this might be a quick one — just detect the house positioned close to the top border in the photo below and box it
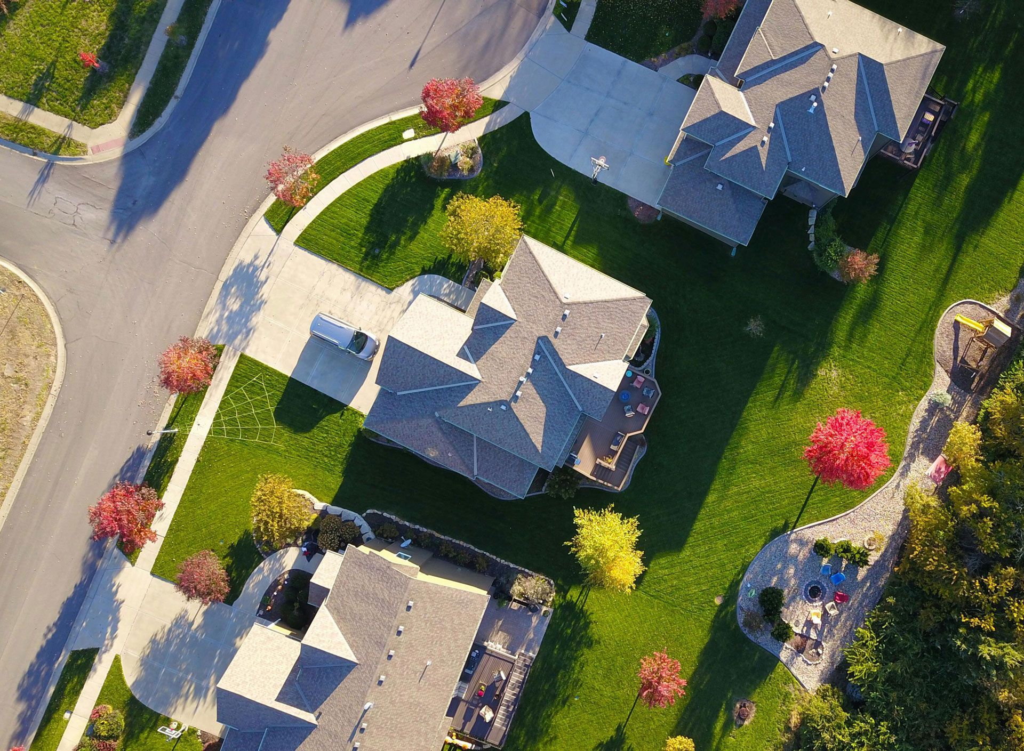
[653,0,946,266]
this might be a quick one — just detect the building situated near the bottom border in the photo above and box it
[216,542,494,751]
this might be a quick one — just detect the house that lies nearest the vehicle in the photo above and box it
[362,235,652,499]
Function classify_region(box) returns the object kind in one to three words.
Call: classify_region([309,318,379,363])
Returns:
vehicle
